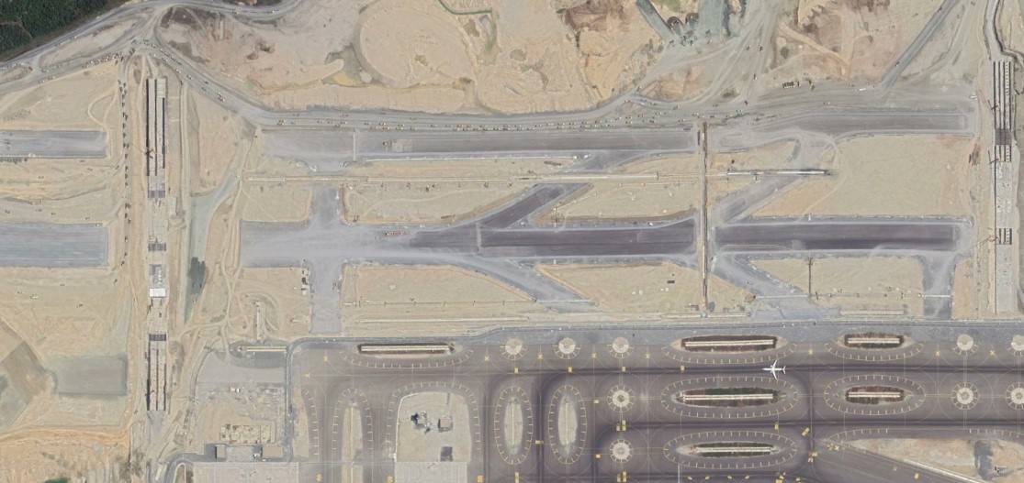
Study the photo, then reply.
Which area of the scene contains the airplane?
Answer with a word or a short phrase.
bottom right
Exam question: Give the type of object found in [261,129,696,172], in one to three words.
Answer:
runway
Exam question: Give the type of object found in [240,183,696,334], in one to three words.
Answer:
runway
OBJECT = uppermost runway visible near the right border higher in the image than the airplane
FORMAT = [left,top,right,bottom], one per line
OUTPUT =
[712,109,974,173]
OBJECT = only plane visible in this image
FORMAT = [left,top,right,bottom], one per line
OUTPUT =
[762,360,786,380]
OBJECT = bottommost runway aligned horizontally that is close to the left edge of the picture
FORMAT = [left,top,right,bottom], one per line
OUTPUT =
[0,223,108,268]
